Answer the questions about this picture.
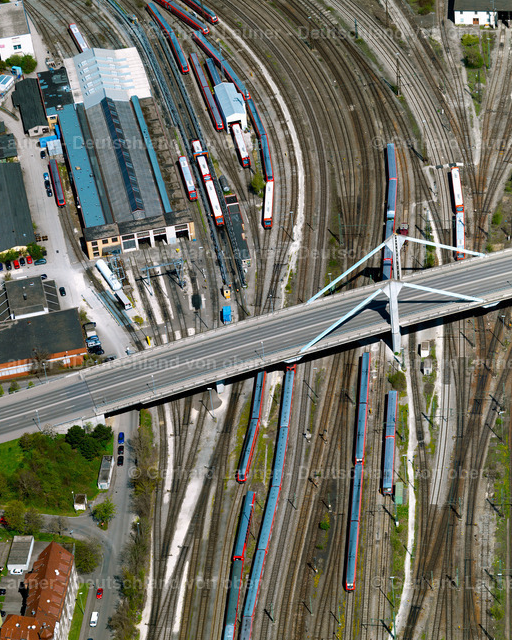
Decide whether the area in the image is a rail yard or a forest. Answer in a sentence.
It's a rail yard.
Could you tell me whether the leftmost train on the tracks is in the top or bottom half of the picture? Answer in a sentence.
The top half of the photo is where the leftmost train on the tracks is.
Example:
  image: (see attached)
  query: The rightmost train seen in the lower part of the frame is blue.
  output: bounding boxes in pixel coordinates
[383,389,396,500]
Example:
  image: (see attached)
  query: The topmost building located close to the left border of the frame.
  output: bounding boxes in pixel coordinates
[0,0,33,60]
